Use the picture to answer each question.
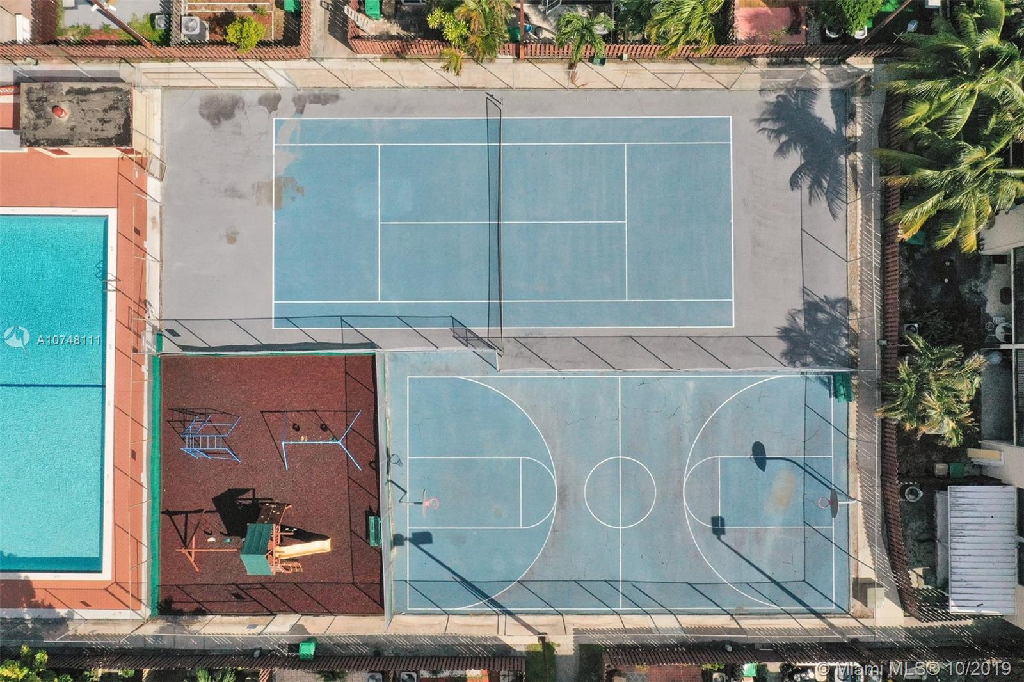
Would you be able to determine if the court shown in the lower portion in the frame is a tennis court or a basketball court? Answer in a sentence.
From above, the court shown in the lower portion can be identified as a basketball court.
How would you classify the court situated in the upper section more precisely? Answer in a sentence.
What you see as the court situated in the upper section is a tennis court.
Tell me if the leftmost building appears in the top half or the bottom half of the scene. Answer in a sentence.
Seen from above, the leftmost building lies in the top half of the view.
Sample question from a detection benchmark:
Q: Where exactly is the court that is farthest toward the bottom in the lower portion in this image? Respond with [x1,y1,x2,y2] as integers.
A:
[389,354,849,613]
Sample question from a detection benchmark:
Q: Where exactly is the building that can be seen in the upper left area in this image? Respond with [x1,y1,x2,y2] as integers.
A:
[21,82,154,159]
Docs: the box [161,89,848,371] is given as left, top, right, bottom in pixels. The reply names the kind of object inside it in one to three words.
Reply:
tennis court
